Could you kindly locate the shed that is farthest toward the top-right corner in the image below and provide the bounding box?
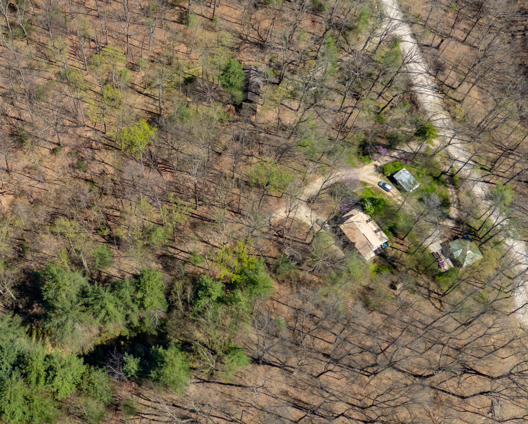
[390,167,420,194]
